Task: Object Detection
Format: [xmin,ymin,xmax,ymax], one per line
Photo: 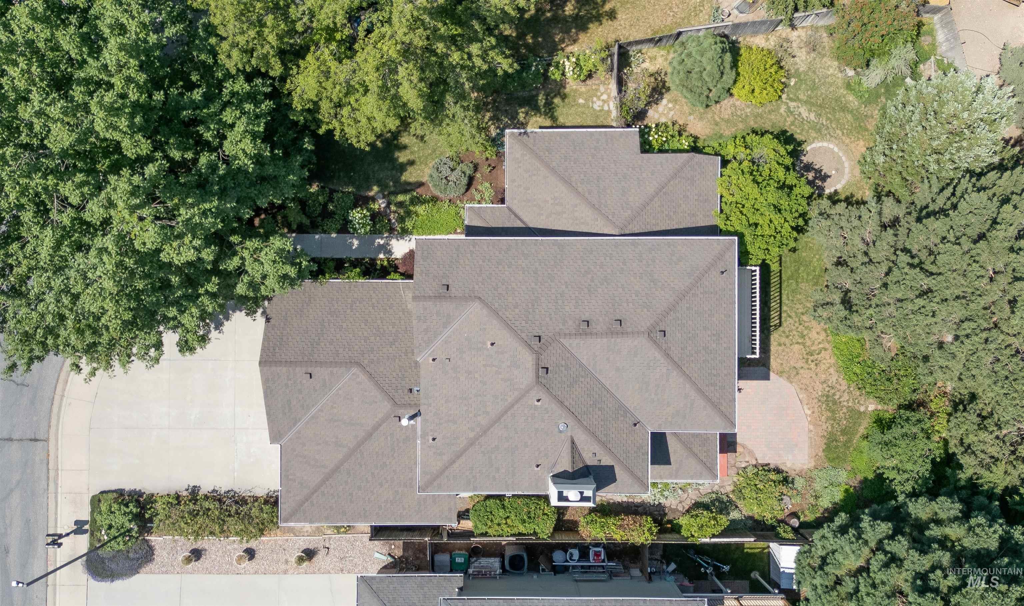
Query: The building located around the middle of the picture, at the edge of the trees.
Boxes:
[257,127,760,528]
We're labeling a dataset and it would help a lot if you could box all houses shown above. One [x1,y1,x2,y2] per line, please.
[355,564,710,606]
[257,127,760,528]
